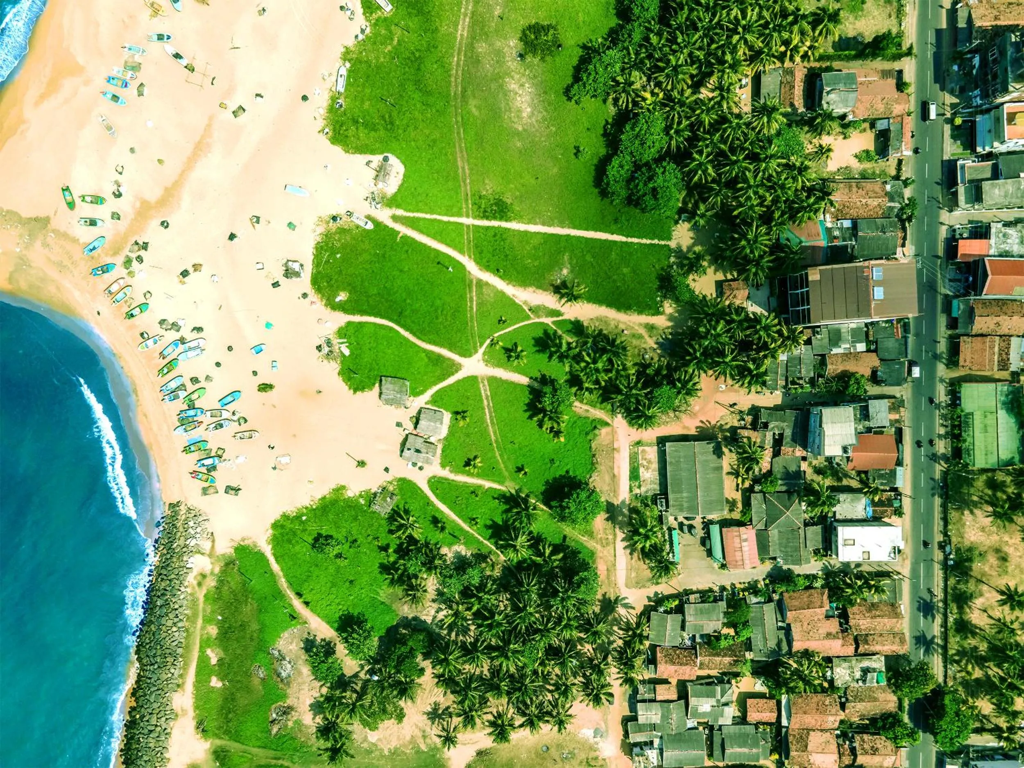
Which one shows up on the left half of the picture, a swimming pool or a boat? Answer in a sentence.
The feature located on the left half of the picture is a boat.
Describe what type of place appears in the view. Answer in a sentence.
The area seen from above is a residential area.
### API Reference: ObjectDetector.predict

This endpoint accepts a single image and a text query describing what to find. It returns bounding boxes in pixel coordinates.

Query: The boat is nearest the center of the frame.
[350,211,373,228]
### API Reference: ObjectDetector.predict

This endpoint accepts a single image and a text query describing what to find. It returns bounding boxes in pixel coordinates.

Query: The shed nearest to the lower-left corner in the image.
[372,489,396,514]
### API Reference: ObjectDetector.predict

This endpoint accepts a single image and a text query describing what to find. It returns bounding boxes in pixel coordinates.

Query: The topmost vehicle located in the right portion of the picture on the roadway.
[923,103,936,123]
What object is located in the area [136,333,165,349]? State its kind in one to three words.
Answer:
boat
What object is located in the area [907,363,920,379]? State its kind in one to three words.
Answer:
vehicle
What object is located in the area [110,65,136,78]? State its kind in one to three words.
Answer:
boat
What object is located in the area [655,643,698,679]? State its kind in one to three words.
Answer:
house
